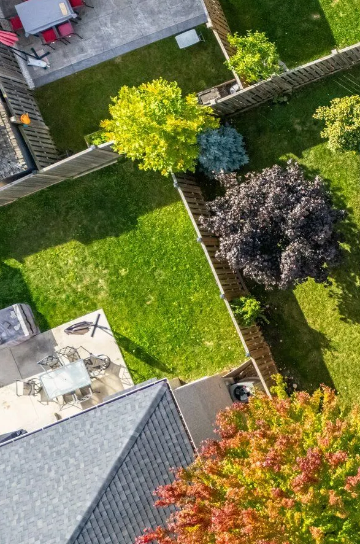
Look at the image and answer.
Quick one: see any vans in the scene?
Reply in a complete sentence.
No, I can't see a single van in this photo.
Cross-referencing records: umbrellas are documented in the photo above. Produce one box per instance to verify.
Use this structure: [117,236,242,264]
[0,33,47,62]
[60,313,102,338]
